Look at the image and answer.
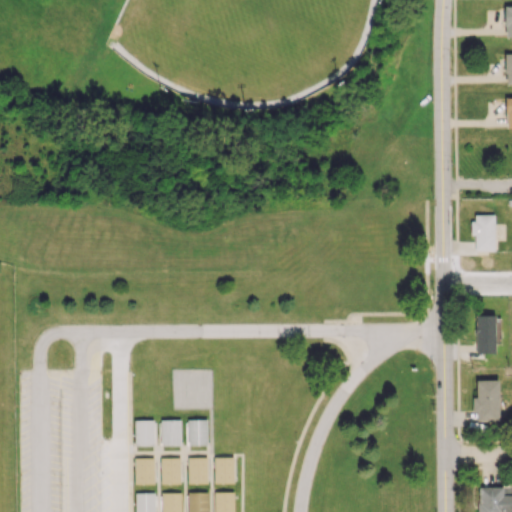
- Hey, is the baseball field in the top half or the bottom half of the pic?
top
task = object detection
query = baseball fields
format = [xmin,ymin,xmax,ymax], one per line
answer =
[110,0,378,108]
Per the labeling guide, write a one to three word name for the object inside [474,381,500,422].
house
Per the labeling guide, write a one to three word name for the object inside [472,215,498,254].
house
